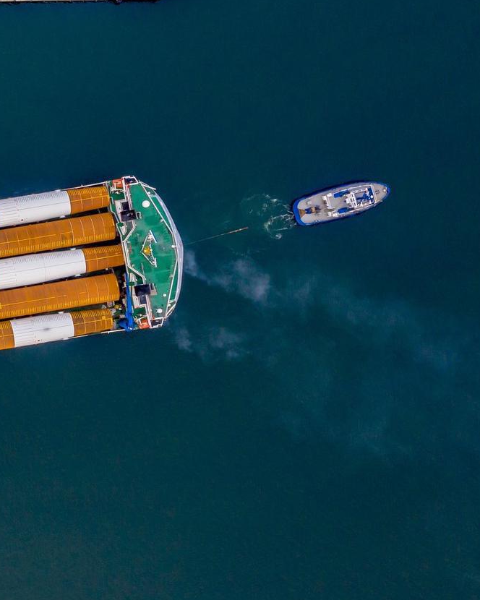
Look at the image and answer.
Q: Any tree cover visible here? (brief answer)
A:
No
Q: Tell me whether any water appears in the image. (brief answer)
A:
Yes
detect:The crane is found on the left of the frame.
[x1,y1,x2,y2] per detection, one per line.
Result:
[117,272,133,332]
